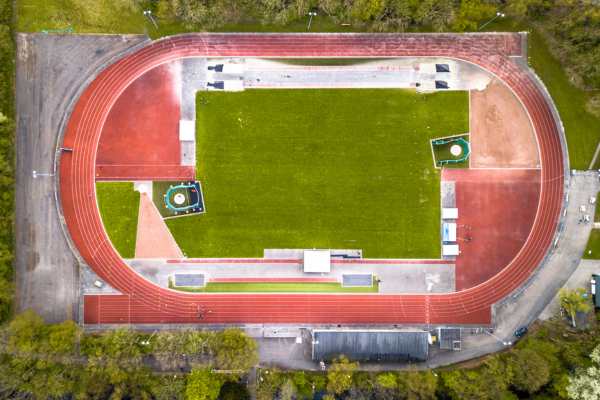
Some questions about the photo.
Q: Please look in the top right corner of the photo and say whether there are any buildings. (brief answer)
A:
No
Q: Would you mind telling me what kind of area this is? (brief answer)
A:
sports ground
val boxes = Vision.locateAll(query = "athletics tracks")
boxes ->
[60,32,570,324]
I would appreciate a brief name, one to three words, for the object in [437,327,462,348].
building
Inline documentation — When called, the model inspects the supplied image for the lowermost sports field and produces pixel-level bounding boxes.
[163,88,471,259]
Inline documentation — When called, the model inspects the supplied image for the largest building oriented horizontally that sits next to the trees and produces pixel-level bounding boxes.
[309,327,429,362]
